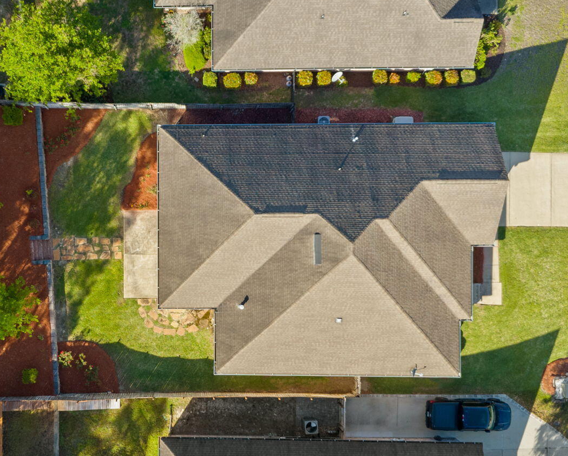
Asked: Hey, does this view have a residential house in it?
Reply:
Yes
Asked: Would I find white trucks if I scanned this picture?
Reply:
No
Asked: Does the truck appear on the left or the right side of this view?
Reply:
right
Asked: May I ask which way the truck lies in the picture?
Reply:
from left to right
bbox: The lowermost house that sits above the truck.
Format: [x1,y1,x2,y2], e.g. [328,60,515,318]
[155,122,509,378]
